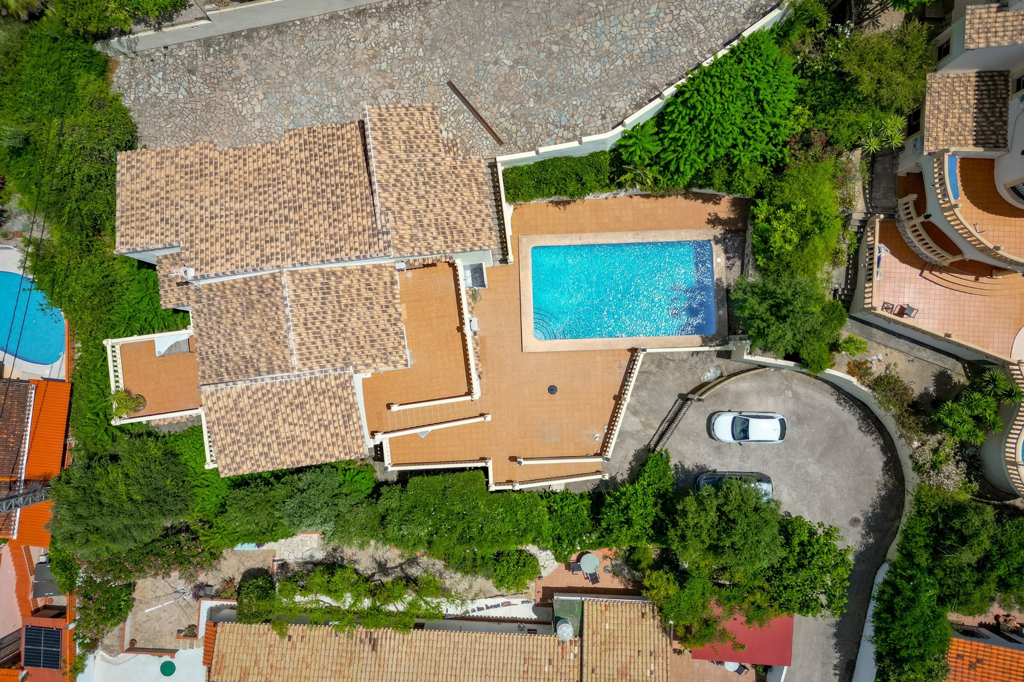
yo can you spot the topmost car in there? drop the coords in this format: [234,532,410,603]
[710,408,788,447]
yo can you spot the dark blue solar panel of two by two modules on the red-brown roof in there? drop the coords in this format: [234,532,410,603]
[23,621,62,669]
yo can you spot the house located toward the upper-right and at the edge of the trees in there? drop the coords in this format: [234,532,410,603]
[883,3,1024,271]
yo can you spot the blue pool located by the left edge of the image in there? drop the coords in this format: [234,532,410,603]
[0,244,71,383]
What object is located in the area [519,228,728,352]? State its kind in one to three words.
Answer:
swimming pool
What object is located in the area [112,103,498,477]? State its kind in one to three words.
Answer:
house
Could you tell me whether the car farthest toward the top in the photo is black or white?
white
